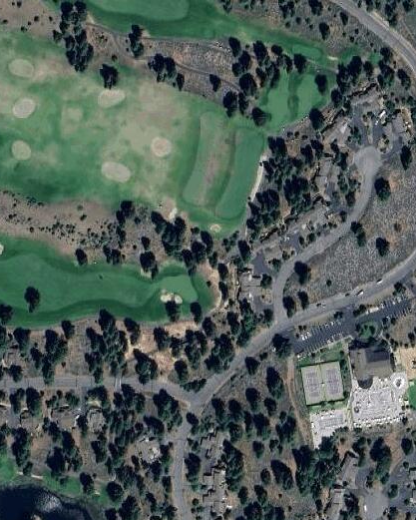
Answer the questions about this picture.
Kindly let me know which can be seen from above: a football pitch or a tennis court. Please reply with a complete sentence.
I can see a tennis court in this picture.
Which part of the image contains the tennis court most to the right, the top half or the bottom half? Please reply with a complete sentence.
Seen from above, the tennis court most to the right lies in the bottom half of the view.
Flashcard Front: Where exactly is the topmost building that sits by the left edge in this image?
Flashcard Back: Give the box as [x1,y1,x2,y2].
[1,346,24,368]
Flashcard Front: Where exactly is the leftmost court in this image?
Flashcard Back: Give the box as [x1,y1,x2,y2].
[302,364,326,405]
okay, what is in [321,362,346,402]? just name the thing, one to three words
tennis court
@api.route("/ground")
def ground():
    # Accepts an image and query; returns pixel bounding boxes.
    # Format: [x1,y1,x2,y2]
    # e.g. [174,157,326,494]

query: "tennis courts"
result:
[302,364,326,405]
[321,362,346,402]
